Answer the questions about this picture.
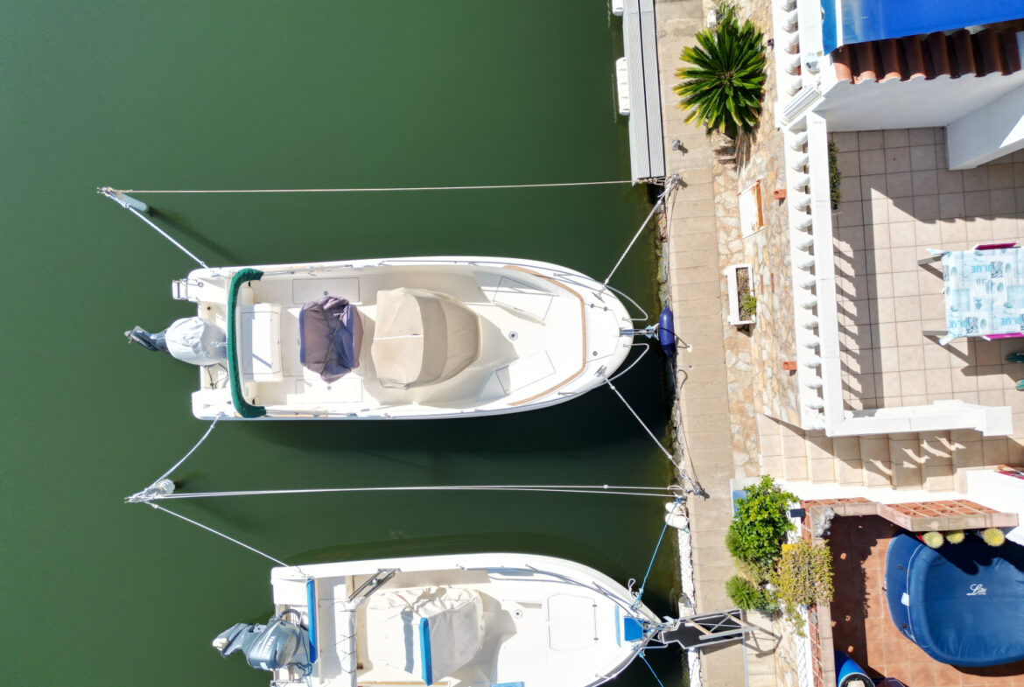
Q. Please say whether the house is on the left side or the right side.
right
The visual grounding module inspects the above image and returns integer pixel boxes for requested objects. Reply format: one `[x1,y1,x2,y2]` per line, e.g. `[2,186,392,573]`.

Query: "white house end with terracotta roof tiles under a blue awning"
[771,0,1024,169]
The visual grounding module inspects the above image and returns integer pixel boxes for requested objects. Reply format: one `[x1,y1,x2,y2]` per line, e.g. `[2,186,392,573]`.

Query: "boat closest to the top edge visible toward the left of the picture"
[123,255,658,421]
